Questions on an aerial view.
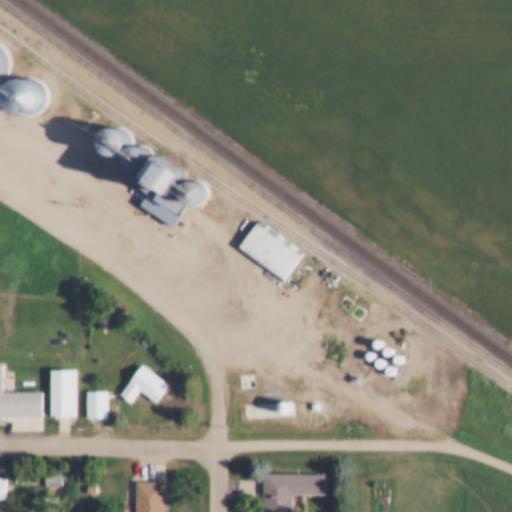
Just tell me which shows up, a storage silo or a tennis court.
storage silo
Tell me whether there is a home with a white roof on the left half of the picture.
Yes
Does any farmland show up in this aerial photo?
Yes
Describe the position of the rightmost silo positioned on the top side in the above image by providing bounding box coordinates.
[180,179,211,207]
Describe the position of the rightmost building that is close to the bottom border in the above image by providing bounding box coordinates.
[263,474,328,512]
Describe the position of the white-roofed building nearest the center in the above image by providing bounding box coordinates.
[240,220,306,282]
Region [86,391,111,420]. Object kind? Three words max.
building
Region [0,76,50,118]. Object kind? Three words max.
silo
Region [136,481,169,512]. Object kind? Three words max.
house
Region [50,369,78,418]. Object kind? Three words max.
building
